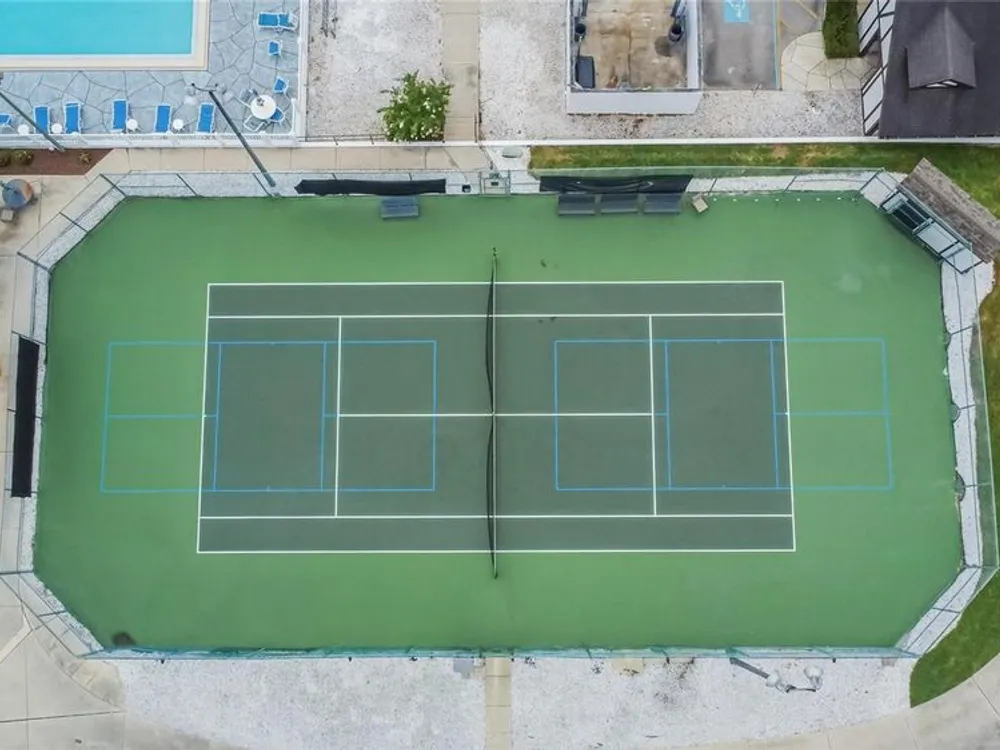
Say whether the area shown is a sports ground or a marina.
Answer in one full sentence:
It's a sports ground.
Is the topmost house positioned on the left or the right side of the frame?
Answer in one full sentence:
The topmost house sits on the right side.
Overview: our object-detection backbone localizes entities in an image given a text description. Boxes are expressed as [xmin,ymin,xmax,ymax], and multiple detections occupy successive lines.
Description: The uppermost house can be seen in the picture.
[856,0,1000,142]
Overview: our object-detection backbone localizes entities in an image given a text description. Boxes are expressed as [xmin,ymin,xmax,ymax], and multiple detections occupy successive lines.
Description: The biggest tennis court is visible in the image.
[33,195,963,648]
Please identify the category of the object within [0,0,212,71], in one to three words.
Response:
swimming pool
